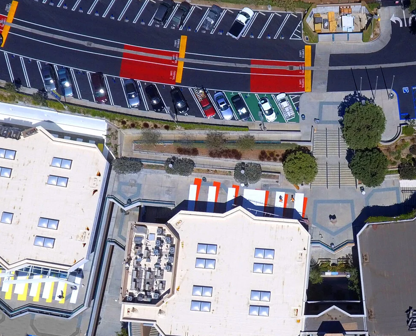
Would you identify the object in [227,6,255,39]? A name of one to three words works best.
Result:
truck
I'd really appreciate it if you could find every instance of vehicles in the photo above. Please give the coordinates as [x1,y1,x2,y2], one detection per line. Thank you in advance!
[40,64,58,92]
[230,92,252,121]
[314,11,323,33]
[170,1,192,28]
[126,79,141,107]
[199,2,225,33]
[90,72,109,103]
[152,0,176,25]
[57,66,76,95]
[145,83,165,112]
[214,91,235,119]
[274,89,297,122]
[227,6,255,39]
[170,87,190,114]
[259,95,278,123]
[189,85,218,121]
